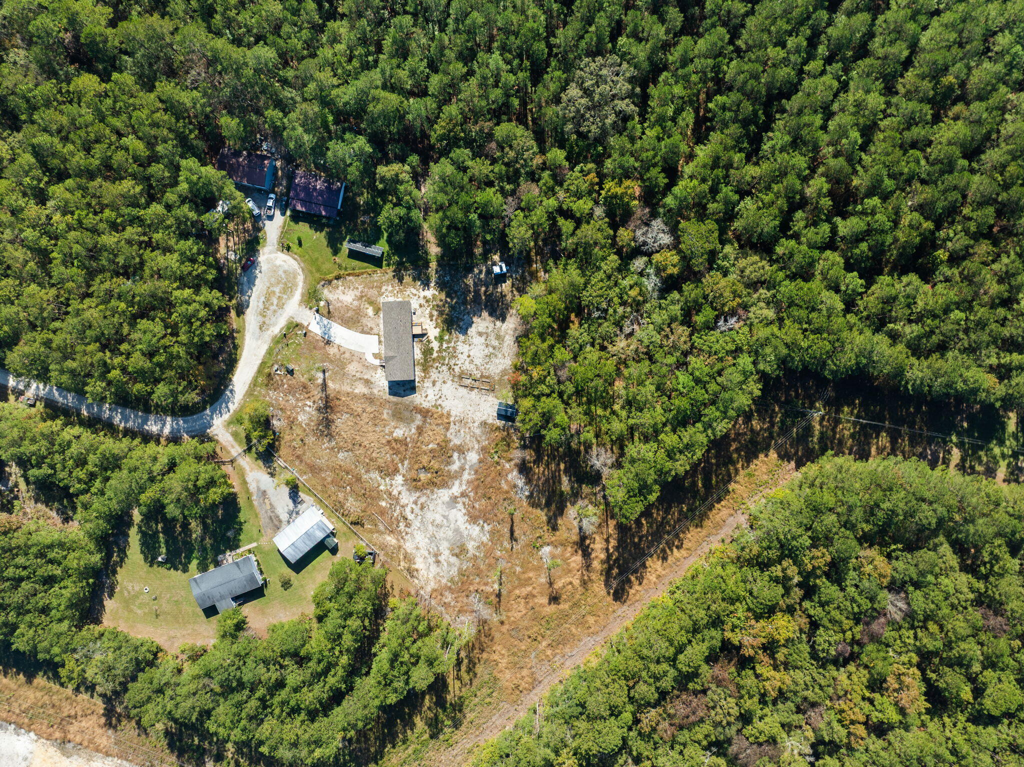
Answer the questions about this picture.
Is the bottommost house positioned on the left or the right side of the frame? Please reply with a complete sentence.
You can find the bottommost house on the left side of the picture.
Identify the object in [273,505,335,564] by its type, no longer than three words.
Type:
barn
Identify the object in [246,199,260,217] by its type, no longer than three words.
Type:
car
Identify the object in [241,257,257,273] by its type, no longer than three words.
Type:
car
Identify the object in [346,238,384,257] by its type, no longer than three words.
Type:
shed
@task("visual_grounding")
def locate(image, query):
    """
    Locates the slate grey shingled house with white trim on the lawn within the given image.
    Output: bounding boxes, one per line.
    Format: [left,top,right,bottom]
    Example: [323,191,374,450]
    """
[189,555,261,609]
